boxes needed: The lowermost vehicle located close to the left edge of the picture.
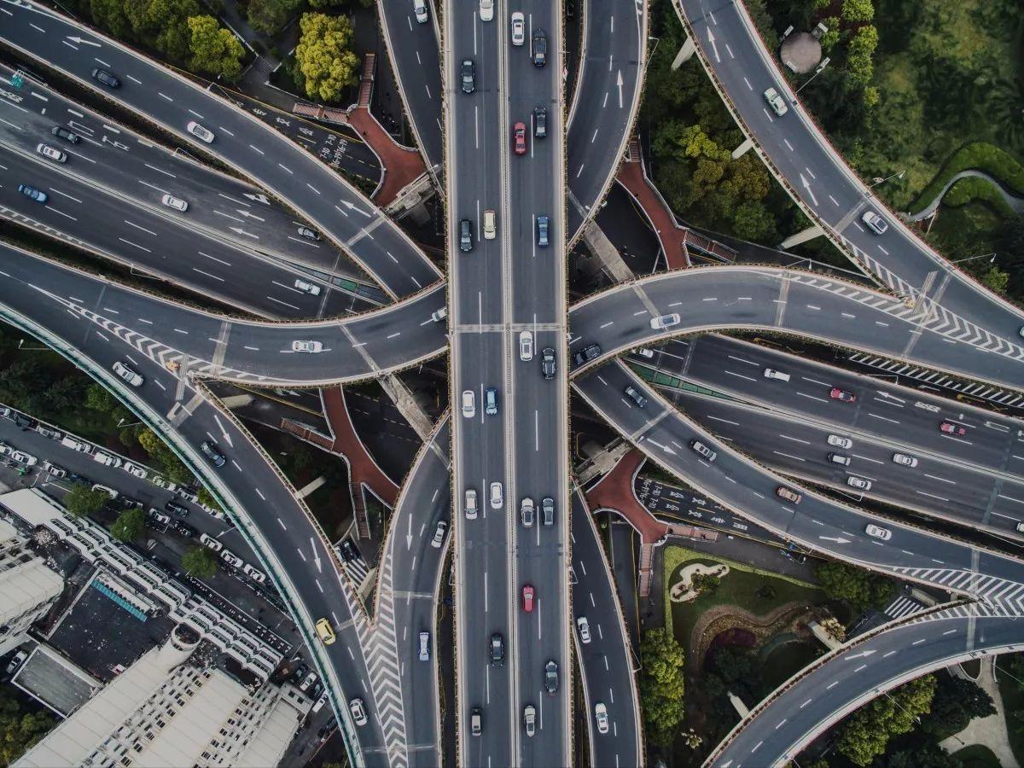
[5,647,30,673]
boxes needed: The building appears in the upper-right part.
[779,33,820,75]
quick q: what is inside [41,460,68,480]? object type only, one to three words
car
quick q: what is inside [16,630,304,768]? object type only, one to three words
building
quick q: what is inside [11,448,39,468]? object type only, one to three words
car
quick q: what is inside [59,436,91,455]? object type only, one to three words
vehicle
